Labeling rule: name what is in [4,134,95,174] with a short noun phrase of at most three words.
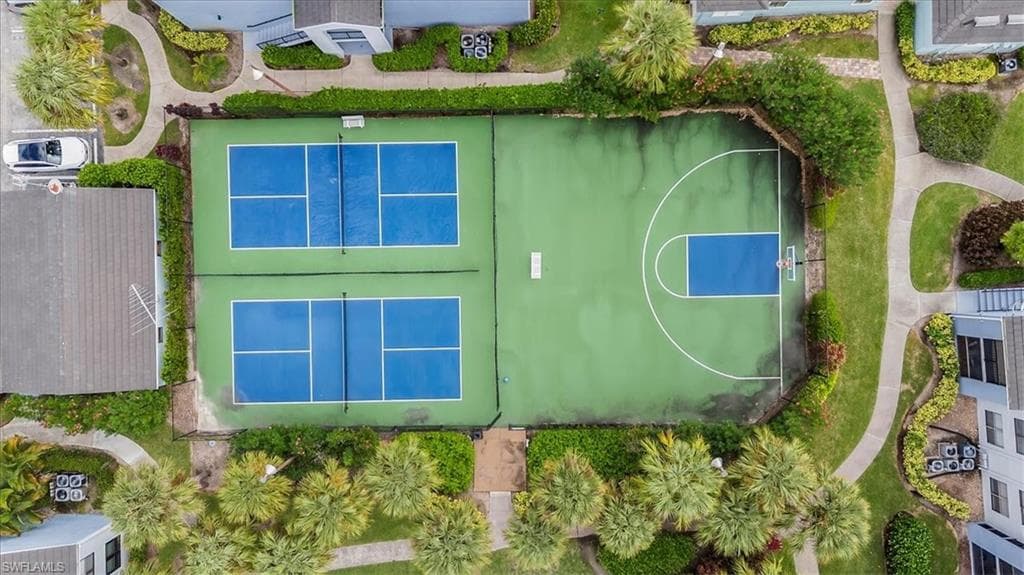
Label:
car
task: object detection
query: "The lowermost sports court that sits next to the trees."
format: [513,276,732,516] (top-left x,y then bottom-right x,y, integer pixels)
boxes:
[193,273,499,431]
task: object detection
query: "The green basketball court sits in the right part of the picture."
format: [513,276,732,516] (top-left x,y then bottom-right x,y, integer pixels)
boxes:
[495,110,806,430]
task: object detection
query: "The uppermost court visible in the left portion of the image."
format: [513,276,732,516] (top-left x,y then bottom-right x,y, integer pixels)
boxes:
[190,113,497,275]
